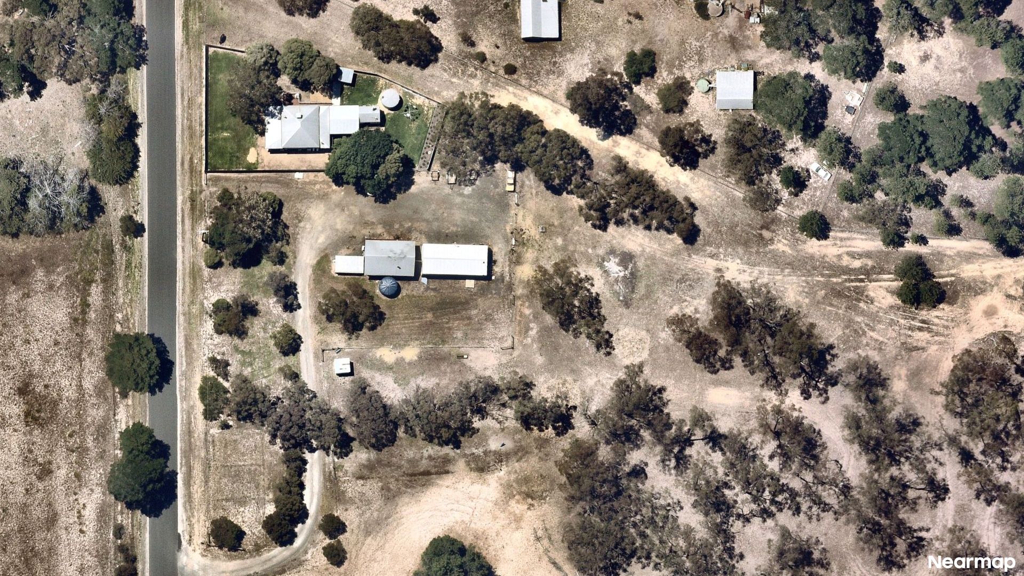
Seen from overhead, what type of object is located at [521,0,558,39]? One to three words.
shed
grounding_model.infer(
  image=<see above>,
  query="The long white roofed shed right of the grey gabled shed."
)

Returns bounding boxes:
[422,244,488,276]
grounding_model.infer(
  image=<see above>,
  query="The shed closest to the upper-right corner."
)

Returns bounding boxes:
[717,70,753,113]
